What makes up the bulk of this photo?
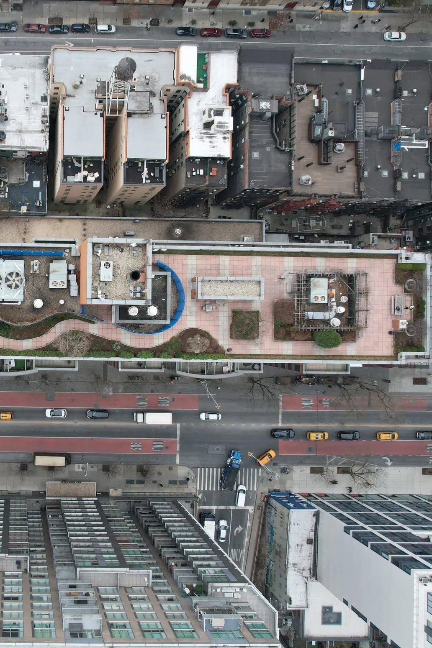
buildings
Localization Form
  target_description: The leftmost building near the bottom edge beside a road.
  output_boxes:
[0,477,280,648]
